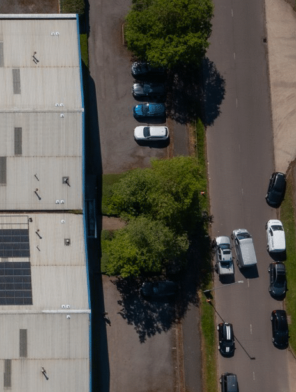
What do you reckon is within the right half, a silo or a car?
car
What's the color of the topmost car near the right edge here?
black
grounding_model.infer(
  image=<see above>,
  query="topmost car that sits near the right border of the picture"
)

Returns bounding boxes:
[262,170,288,207]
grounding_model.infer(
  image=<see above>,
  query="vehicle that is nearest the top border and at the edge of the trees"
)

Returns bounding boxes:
[129,61,168,80]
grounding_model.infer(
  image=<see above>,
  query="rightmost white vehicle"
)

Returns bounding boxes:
[262,219,289,255]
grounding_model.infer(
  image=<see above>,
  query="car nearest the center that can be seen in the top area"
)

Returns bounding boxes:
[132,125,170,144]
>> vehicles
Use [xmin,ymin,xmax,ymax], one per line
[129,61,168,80]
[262,219,289,255]
[215,325,235,357]
[230,229,261,271]
[262,170,288,207]
[132,125,170,144]
[266,312,290,350]
[212,237,236,277]
[265,263,288,298]
[217,374,238,392]
[131,82,169,99]
[132,102,167,120]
